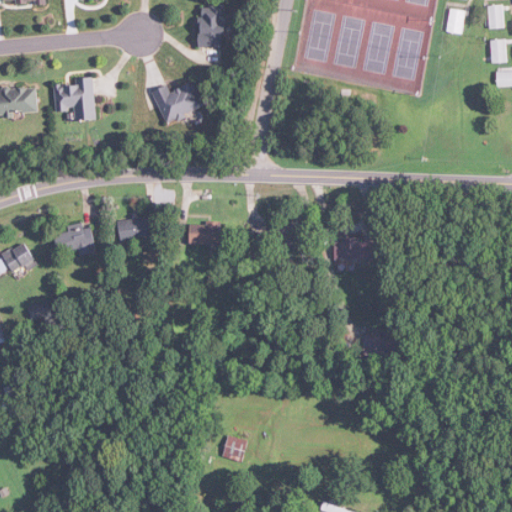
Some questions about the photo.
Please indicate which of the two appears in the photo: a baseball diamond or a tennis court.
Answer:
tennis court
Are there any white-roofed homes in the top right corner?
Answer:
Yes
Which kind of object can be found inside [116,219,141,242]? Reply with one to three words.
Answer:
house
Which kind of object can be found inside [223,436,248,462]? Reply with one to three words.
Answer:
barn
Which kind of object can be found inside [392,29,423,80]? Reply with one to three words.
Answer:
tennis court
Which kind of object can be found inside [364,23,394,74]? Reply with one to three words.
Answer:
tennis court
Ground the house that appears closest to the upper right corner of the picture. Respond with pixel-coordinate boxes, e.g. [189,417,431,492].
[488,4,510,30]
